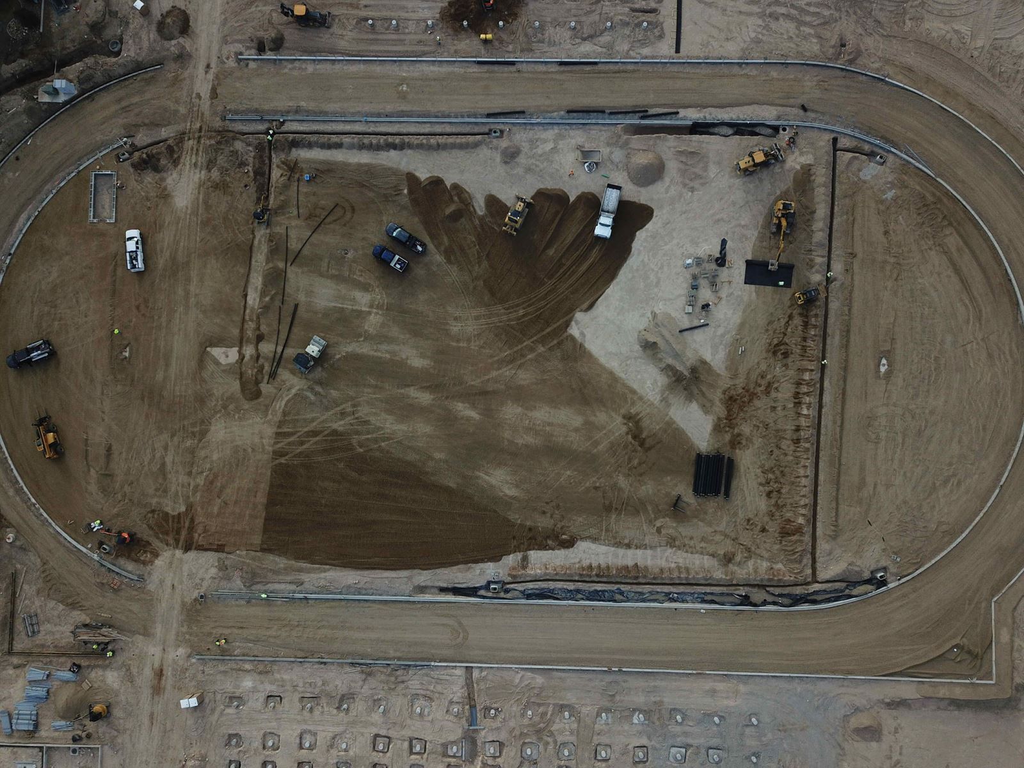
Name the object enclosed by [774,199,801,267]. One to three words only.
work vehicle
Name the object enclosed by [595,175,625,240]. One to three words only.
truck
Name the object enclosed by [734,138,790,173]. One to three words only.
work vehicle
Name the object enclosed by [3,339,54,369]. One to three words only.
truck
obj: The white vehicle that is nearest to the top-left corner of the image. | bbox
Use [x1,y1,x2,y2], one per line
[120,227,144,272]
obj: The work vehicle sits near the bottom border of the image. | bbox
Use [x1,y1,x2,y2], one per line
[65,701,109,730]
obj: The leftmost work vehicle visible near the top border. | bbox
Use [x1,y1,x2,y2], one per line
[276,0,331,29]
